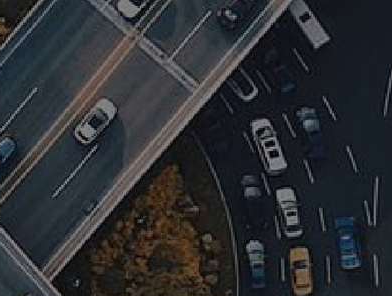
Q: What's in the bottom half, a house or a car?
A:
car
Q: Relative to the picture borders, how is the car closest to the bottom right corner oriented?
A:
vertically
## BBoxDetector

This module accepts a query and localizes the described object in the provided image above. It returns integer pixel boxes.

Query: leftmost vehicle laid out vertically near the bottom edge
[241,238,268,292]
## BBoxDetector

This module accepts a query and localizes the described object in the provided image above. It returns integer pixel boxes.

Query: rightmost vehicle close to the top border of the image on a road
[279,0,328,54]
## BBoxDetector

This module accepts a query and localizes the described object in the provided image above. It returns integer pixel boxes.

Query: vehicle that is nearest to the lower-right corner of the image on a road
[332,217,360,271]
